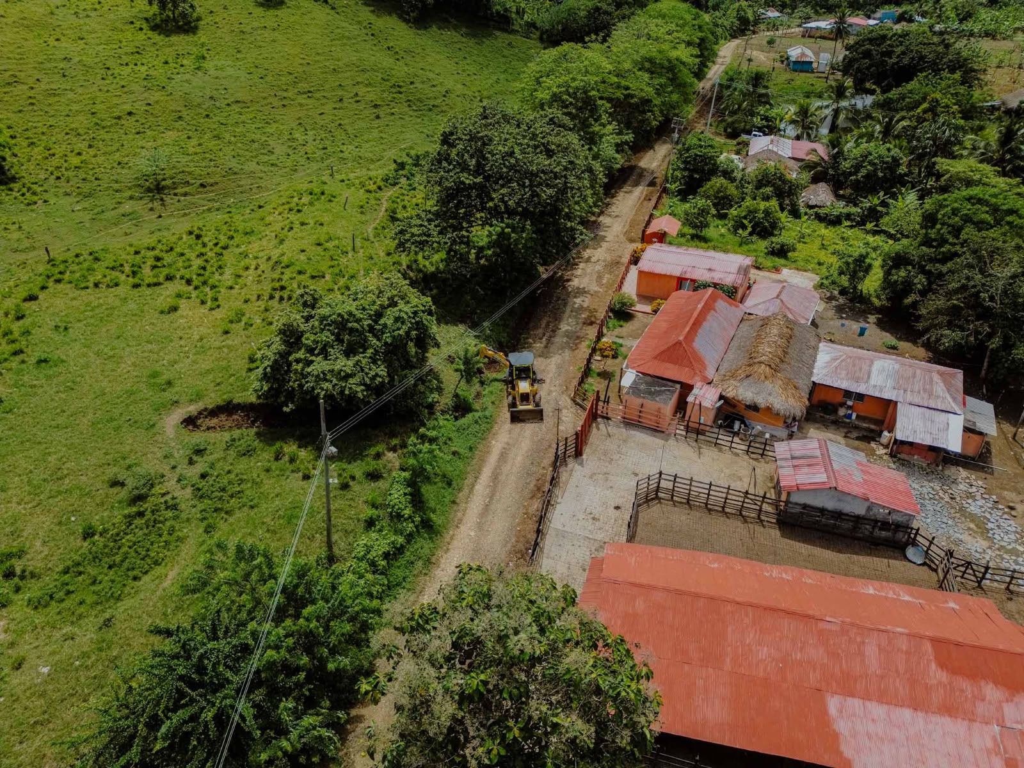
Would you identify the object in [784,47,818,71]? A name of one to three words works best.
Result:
house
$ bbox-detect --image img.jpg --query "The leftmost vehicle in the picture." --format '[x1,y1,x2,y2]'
[475,344,548,419]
